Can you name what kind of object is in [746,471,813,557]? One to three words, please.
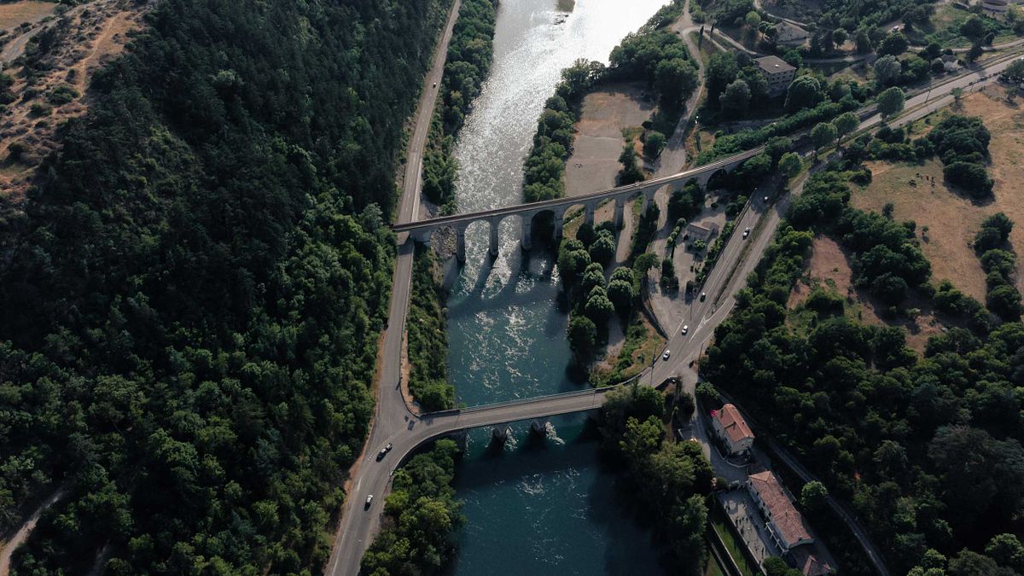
house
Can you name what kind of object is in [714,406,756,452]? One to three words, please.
house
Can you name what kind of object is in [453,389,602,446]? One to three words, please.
bridge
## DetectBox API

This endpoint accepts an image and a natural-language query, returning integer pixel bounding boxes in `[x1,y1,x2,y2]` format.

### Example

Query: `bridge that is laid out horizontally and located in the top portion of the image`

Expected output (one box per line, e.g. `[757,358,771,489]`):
[392,145,767,266]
